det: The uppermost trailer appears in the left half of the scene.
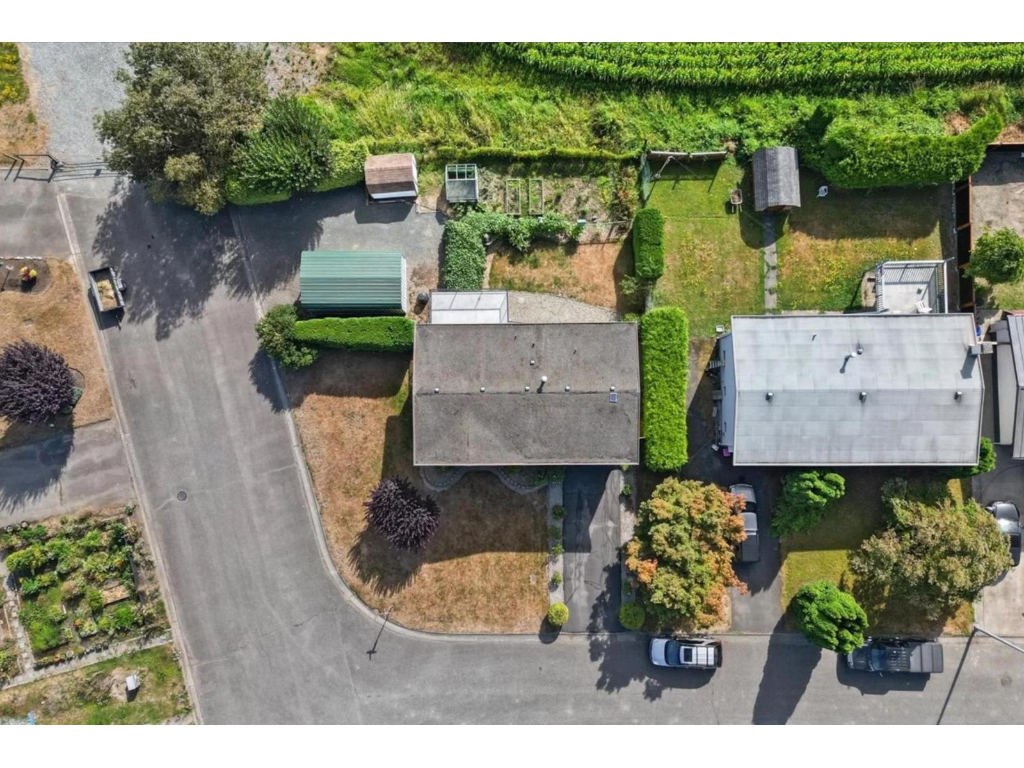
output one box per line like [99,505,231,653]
[89,266,129,328]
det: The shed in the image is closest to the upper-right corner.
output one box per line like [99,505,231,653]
[746,146,796,215]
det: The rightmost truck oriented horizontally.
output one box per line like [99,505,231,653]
[843,639,943,677]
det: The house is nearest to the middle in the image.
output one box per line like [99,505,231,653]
[412,321,644,467]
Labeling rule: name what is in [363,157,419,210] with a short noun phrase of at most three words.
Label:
shed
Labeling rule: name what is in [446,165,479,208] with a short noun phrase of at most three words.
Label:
greenhouse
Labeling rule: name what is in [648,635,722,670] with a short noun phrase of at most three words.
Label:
car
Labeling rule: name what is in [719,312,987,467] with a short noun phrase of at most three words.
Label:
house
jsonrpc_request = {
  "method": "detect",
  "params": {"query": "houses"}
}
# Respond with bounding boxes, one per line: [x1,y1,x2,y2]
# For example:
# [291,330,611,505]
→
[412,321,644,467]
[719,312,987,467]
[992,306,1024,459]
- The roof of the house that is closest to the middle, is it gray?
Yes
